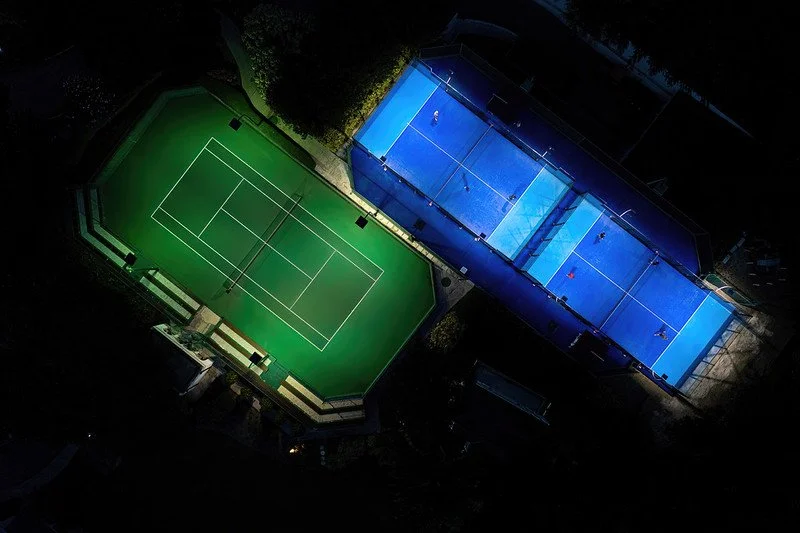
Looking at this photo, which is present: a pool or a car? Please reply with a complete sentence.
The image shows a pool.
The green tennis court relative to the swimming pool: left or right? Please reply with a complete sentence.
From the viewer's perspective, the green tennis court falls to the left of the swimming pool.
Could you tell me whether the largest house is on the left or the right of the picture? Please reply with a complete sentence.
The largest house sits on the left side.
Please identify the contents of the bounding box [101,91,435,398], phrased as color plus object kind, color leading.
green tennis court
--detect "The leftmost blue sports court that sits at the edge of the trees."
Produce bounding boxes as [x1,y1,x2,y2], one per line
[356,67,566,260]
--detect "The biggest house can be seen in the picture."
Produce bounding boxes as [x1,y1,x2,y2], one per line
[128,325,212,399]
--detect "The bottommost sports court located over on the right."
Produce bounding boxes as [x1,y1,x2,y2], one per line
[521,196,731,389]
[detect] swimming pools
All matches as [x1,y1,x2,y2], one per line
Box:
[472,363,554,424]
